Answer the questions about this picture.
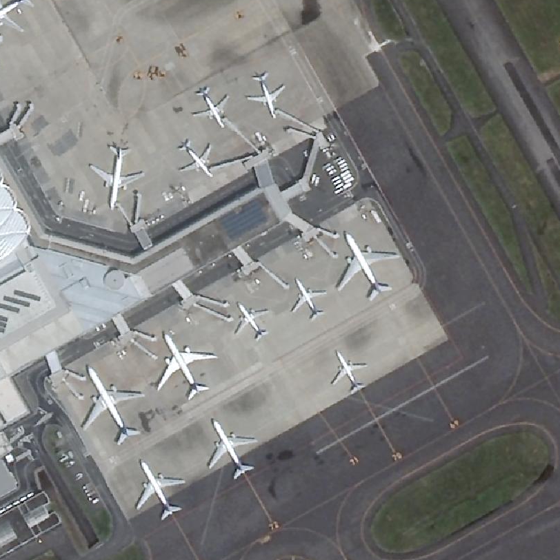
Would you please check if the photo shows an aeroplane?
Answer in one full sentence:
Yes, an aeroplane appears in the view.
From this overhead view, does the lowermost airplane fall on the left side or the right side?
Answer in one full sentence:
The lowermost airplane sits on the left side.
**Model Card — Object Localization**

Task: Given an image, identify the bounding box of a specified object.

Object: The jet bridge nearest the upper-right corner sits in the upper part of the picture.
[275,109,330,148]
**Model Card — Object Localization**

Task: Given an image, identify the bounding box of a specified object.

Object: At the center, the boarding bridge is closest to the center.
[234,247,290,291]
